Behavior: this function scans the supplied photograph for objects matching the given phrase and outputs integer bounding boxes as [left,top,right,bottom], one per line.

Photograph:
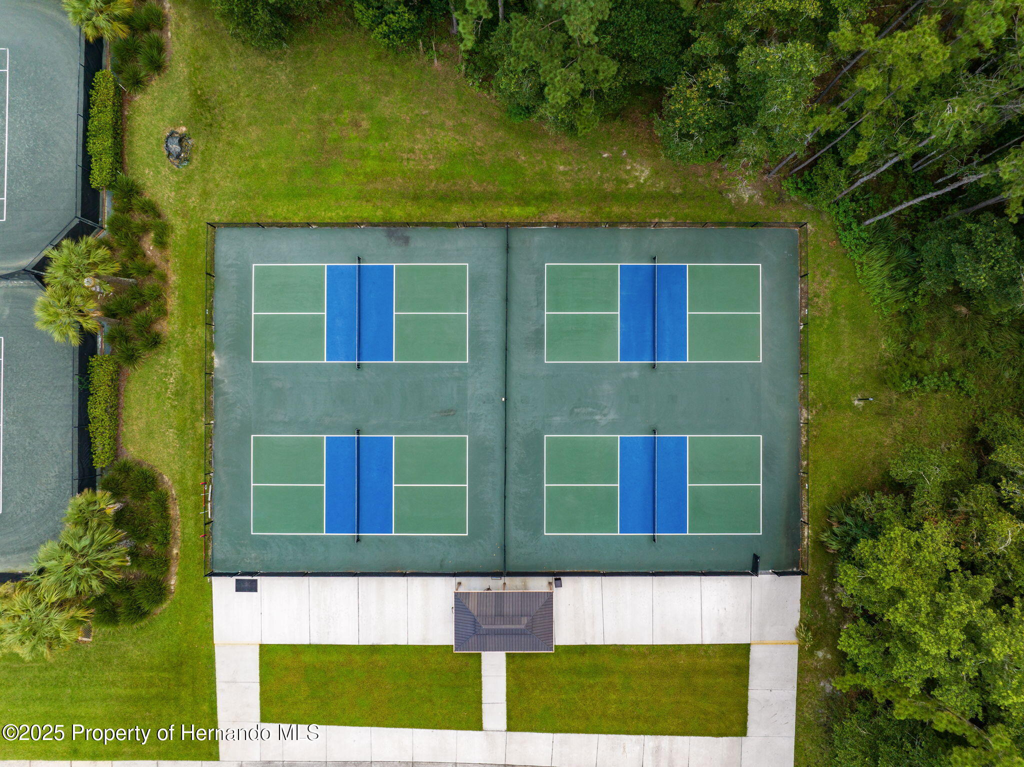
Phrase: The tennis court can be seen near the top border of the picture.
[0,0,105,273]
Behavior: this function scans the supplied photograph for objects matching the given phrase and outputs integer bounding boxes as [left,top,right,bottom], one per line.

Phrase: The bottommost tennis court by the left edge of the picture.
[0,278,99,572]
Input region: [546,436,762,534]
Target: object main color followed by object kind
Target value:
green sports court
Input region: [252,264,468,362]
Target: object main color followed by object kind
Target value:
green sports court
